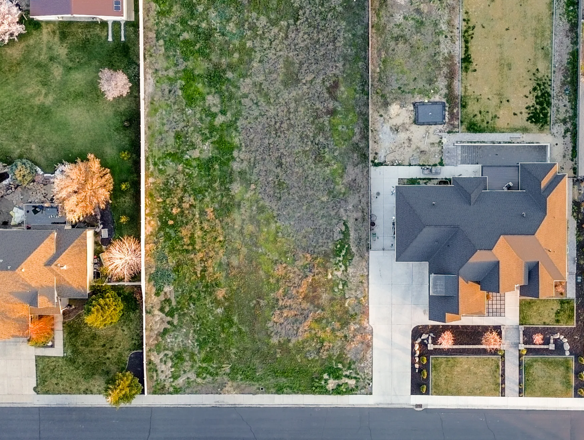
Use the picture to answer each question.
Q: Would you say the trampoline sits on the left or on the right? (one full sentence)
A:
You can find the trampoline on the right side of the picture.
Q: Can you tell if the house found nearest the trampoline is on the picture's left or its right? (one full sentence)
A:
It is on the right.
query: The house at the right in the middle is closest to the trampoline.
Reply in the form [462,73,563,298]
[395,162,567,323]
